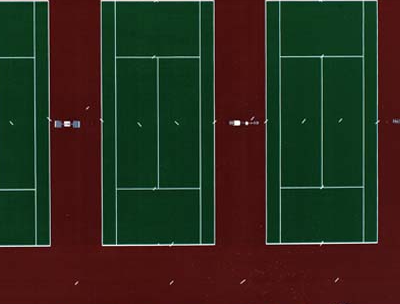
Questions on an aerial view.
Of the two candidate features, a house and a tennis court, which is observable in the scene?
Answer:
tennis court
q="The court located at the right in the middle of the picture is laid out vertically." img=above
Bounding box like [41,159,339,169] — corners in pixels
[265,0,378,245]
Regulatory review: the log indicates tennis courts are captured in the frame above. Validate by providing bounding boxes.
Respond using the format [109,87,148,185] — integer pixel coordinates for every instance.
[0,0,51,248]
[265,0,378,245]
[101,0,216,247]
